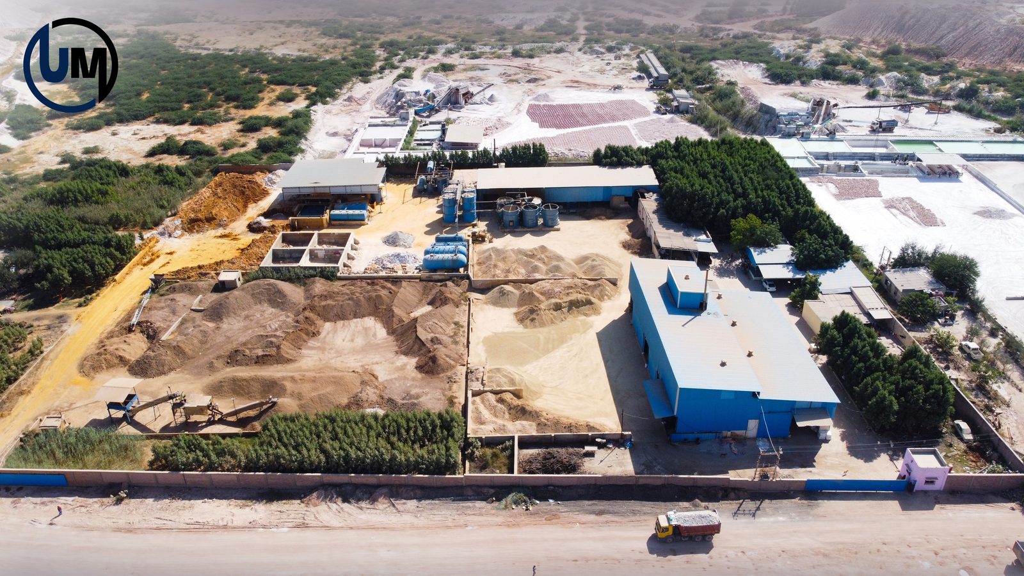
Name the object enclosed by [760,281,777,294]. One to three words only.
vehicle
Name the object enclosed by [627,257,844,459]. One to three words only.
building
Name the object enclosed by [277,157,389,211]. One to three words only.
shed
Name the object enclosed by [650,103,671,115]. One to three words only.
vehicle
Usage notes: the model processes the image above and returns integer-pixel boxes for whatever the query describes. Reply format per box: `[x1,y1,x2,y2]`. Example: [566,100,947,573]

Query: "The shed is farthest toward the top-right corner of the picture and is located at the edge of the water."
[911,153,968,179]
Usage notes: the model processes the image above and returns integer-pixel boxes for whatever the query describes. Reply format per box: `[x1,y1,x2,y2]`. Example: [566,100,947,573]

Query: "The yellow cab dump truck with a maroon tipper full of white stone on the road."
[652,511,727,542]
